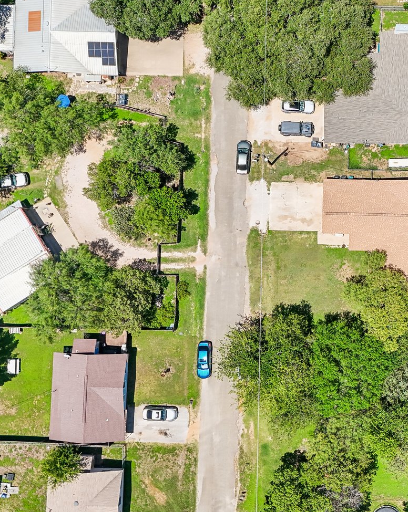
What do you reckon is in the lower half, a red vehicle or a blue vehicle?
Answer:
blue vehicle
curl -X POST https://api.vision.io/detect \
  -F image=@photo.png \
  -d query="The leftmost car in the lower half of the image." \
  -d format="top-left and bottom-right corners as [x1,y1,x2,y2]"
[142,405,180,423]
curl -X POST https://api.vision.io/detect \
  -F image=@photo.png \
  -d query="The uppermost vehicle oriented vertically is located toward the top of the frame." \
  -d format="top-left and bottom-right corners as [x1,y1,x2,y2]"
[234,140,252,176]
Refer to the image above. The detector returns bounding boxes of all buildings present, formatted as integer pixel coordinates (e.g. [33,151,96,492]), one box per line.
[0,200,64,312]
[45,450,127,512]
[0,0,121,85]
[322,179,408,291]
[49,339,134,444]
[325,24,408,145]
